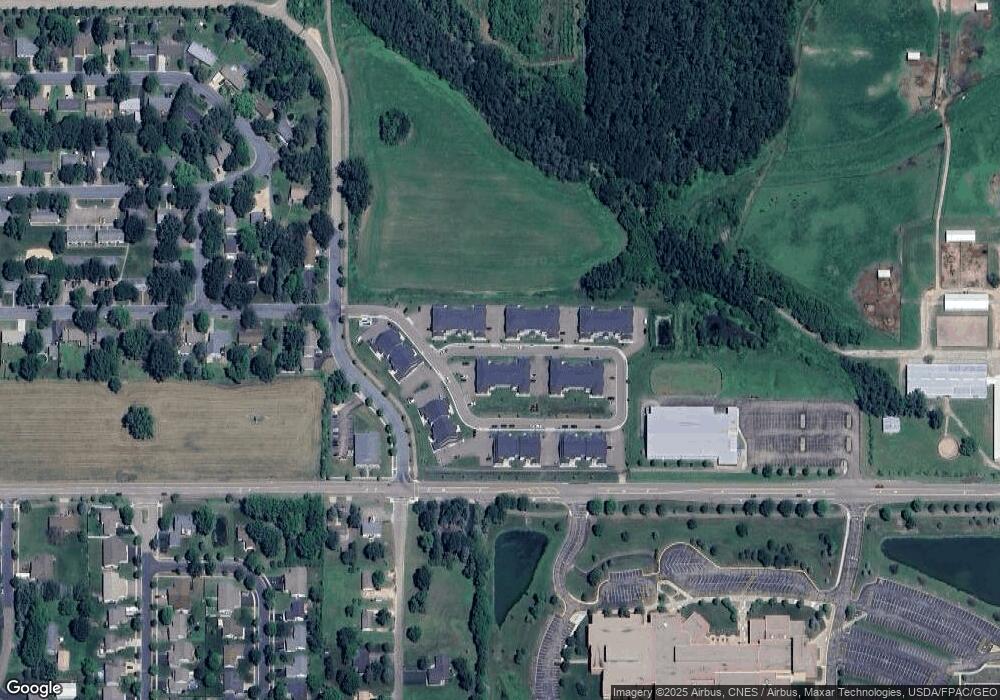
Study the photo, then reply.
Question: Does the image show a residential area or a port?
residential area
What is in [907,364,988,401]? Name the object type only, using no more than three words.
building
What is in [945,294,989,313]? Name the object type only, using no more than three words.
barn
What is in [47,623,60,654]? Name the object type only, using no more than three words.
shed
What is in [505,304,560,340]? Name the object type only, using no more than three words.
house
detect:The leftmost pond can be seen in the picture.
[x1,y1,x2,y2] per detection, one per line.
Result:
[495,530,548,625]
